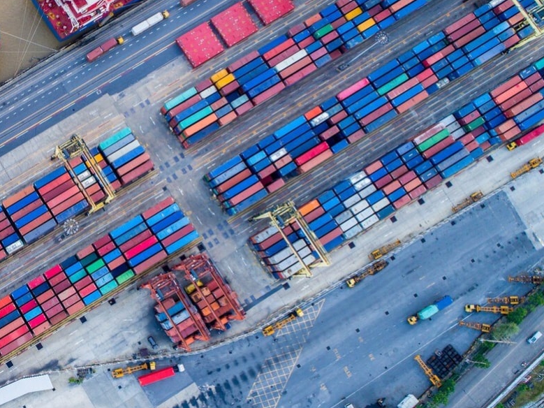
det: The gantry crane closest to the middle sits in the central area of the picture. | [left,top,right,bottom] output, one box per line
[243,200,330,284]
